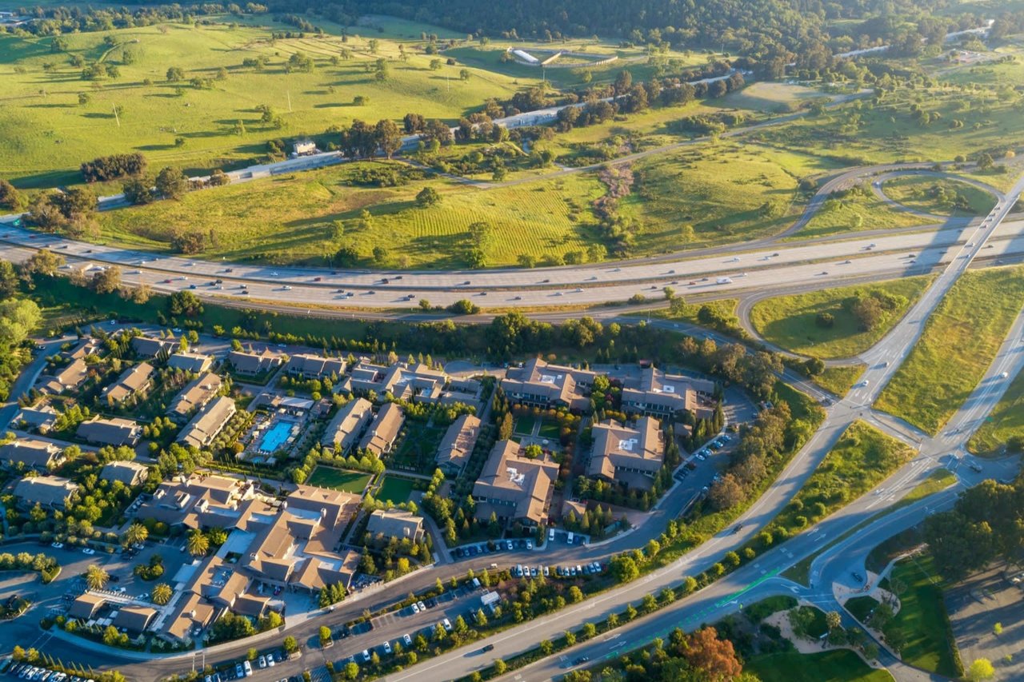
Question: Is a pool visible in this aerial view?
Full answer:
Yes, a pool can be made out from above.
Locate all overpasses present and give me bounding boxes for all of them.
[932,198,1013,296]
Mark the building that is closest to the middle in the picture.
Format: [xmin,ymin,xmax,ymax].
[497,356,600,422]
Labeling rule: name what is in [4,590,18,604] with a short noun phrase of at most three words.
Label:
vehicle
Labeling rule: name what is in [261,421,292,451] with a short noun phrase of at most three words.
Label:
swimming pool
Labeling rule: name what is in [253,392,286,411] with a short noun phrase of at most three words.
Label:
building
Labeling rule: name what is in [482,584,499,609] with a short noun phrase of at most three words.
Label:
vehicle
